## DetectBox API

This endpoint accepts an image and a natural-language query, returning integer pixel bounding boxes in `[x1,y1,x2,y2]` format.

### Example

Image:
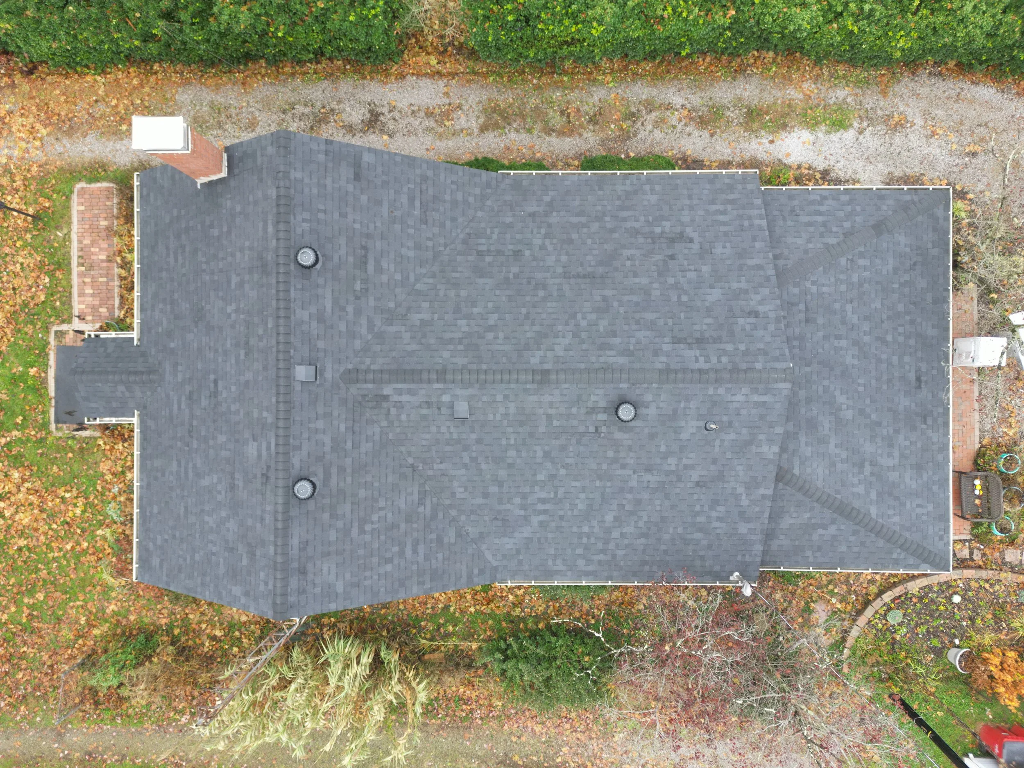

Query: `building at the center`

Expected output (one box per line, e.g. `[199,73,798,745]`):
[54,113,952,622]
